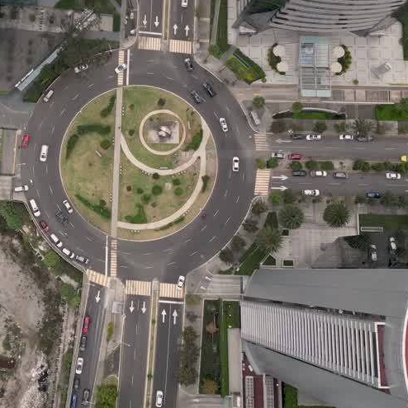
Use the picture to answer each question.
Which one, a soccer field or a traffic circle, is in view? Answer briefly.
traffic circle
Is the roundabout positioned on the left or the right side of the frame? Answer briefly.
left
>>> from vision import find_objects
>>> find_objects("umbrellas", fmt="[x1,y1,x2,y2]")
[276,62,287,73]
[330,63,341,74]
[273,46,284,58]
[332,47,343,58]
